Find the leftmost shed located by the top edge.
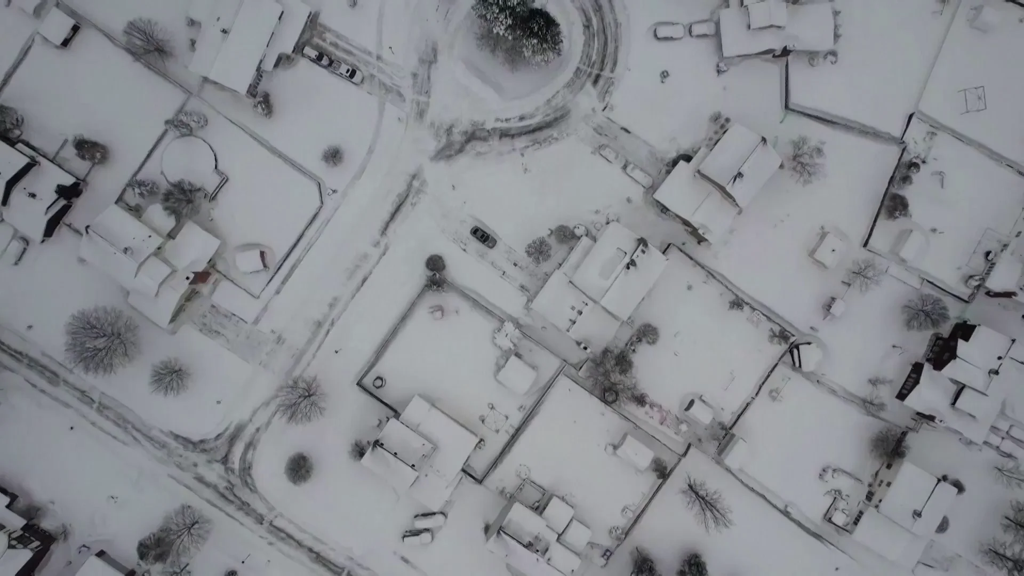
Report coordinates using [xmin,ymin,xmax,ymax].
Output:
[37,6,85,50]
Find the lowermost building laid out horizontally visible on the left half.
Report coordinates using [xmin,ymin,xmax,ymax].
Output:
[73,546,140,576]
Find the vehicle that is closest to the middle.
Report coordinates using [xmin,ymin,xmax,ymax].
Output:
[469,224,497,249]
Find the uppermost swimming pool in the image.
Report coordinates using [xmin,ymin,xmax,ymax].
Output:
[161,131,232,199]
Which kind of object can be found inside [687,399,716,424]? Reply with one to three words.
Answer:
shed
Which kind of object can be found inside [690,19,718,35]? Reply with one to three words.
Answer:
car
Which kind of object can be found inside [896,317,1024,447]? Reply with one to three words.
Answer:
house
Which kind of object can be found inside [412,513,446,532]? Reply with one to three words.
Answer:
vehicle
